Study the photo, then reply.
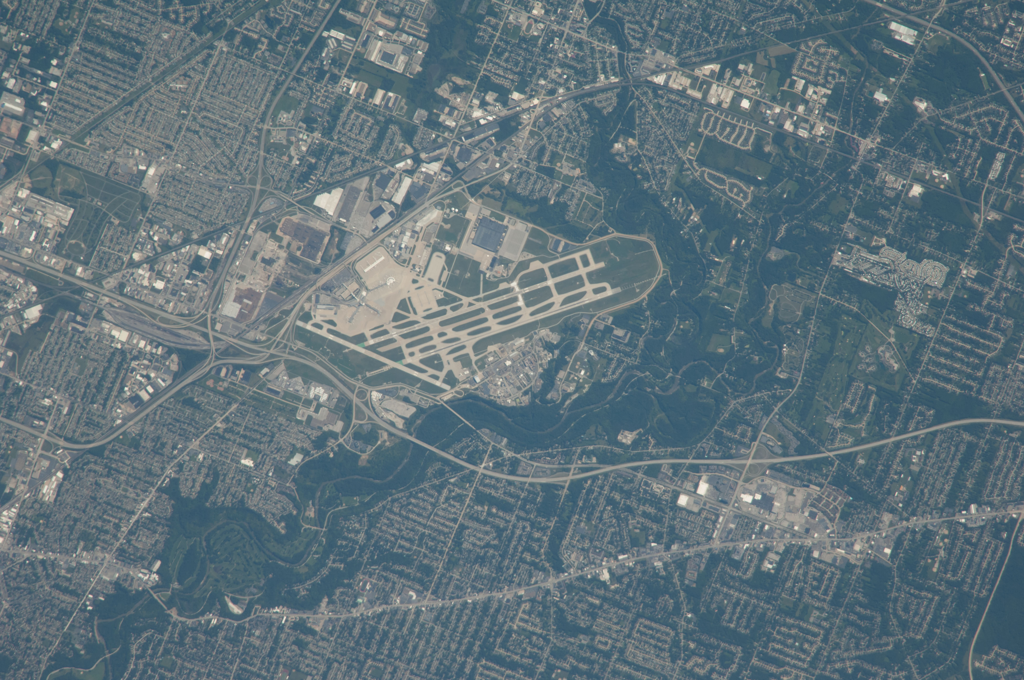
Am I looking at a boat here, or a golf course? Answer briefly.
golf course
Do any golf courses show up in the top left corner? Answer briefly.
No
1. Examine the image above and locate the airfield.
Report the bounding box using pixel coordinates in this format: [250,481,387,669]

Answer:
[295,221,663,390]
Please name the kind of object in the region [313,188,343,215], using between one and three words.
building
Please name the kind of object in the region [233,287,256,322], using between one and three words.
building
